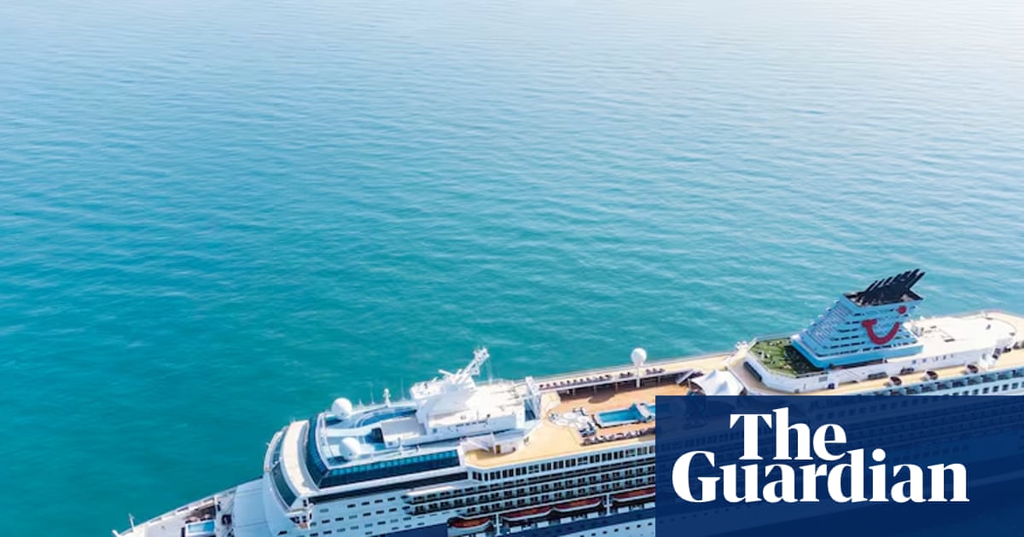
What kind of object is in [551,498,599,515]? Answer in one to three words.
boat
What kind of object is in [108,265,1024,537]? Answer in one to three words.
ship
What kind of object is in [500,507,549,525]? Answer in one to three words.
boat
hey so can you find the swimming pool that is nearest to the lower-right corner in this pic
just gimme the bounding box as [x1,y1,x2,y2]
[643,398,697,424]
